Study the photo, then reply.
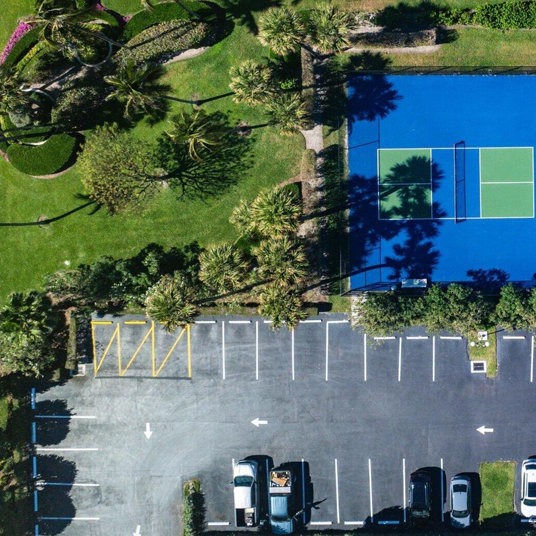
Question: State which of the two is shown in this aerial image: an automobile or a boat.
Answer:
automobile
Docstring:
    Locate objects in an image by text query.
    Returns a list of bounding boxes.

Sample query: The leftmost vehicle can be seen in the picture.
[229,458,260,529]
